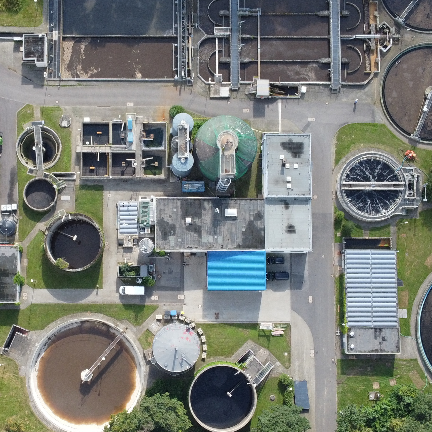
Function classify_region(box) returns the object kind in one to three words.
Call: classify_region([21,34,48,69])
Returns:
building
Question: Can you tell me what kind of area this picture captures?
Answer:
industrial area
